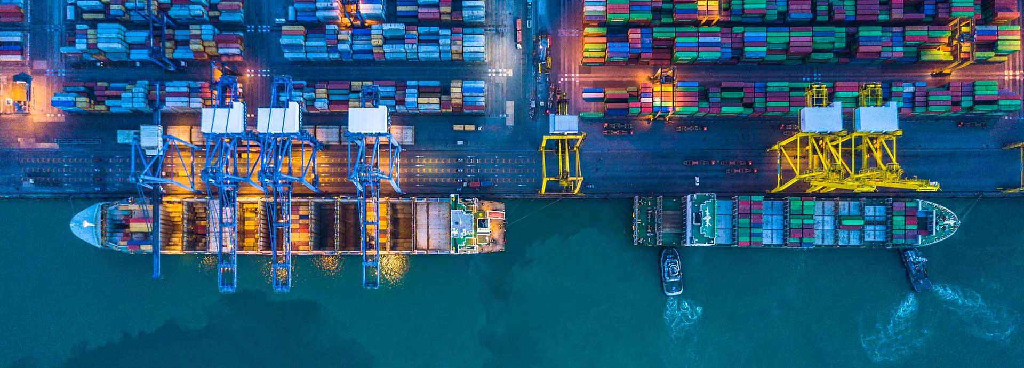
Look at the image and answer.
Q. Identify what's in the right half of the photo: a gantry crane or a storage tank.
gantry crane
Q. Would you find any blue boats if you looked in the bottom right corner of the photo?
Yes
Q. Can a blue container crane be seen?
Yes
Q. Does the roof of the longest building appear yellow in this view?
Yes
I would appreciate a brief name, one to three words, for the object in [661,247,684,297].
boat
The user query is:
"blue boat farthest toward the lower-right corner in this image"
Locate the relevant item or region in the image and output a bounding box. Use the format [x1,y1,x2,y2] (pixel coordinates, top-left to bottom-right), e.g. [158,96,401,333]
[902,249,934,295]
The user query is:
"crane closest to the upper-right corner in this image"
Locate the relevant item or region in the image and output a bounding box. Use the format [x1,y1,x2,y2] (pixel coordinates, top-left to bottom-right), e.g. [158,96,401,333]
[931,15,978,75]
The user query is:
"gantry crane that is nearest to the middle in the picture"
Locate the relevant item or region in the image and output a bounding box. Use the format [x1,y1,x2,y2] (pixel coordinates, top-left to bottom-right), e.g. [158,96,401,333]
[532,90,586,194]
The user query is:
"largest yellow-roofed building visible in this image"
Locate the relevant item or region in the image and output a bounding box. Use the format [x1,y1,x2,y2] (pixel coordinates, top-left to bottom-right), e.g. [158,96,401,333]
[7,79,27,112]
